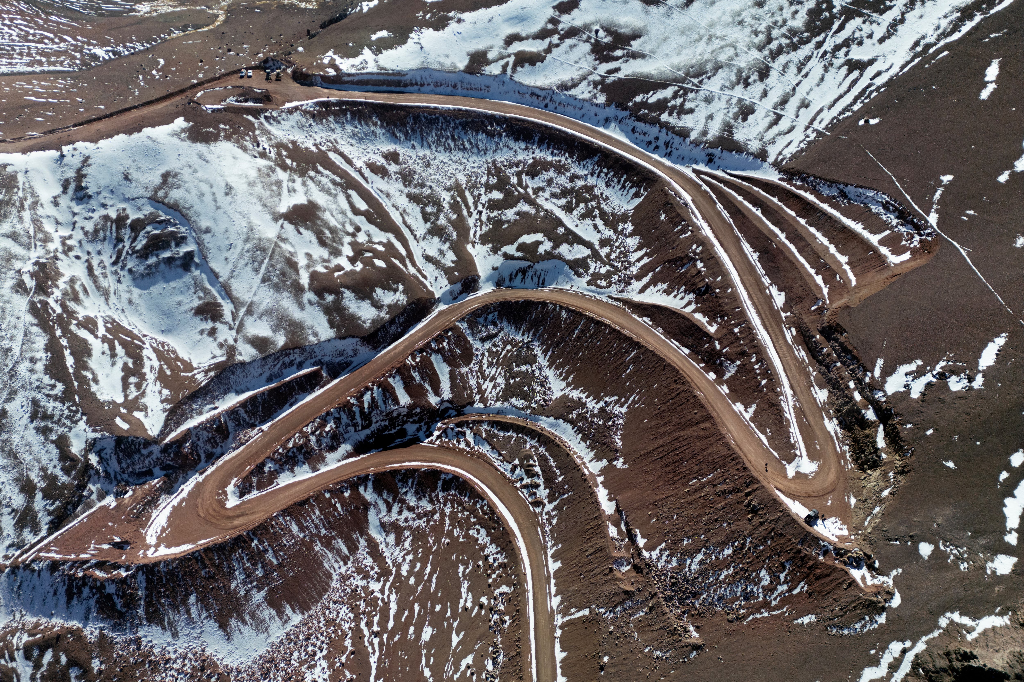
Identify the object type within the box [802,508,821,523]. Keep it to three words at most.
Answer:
vehicle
